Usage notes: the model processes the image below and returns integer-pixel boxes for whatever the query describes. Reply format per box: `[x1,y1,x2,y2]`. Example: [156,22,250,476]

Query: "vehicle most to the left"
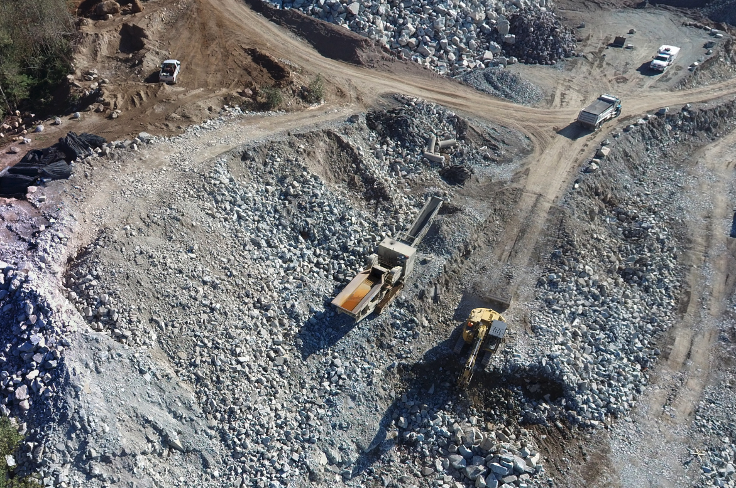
[161,58,183,77]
